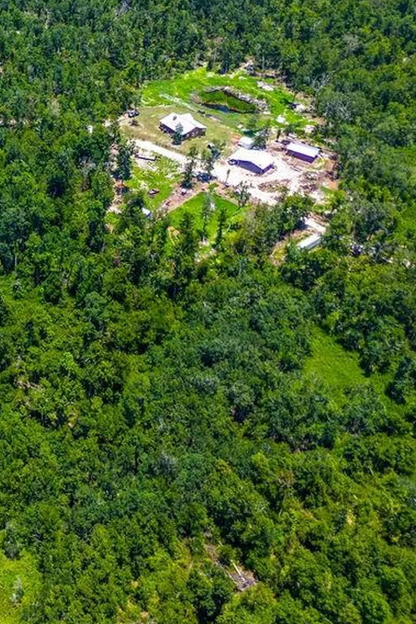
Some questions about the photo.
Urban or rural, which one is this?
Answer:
rural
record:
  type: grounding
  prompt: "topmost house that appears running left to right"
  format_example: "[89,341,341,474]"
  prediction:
[158,112,218,140]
